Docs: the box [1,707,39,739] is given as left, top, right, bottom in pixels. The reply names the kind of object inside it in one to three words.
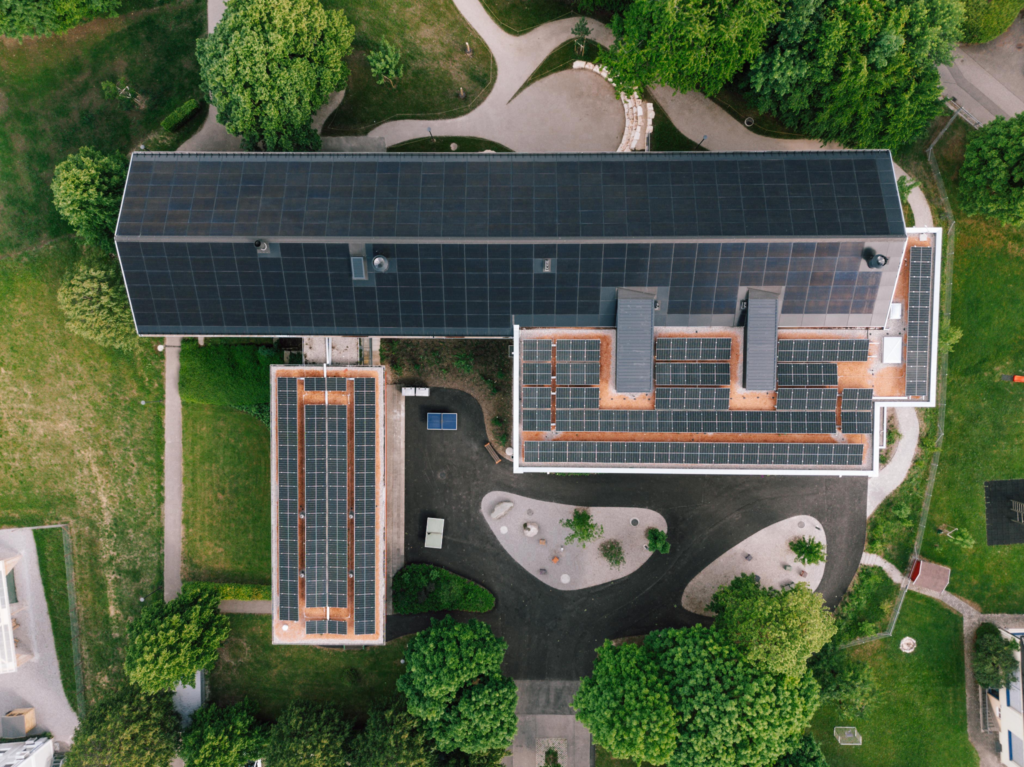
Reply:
shed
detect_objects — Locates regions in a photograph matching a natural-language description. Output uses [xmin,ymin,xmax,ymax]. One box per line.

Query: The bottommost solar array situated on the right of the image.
[524,442,864,464]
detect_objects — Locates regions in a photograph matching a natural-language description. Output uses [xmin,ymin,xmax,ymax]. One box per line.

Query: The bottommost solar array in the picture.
[306,620,347,636]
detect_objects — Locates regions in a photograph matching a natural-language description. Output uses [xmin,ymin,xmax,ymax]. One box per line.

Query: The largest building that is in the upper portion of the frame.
[114,151,908,393]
